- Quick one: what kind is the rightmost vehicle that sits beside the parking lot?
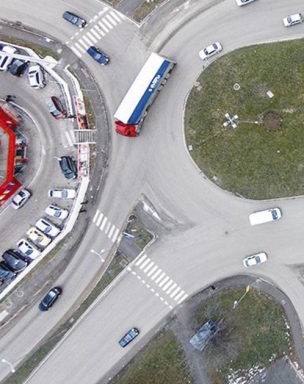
truck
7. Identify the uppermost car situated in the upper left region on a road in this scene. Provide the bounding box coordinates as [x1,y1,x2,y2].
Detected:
[62,10,88,28]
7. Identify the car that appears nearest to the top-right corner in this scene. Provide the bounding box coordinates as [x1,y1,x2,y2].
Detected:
[282,14,304,27]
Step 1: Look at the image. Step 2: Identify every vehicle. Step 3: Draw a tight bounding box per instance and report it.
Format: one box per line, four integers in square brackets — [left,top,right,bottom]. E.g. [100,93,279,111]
[49,95,68,120]
[88,46,110,64]
[243,251,268,267]
[0,262,17,282]
[251,207,281,224]
[41,286,62,310]
[119,327,140,346]
[10,188,33,210]
[62,10,88,28]
[113,52,173,134]
[236,0,258,6]
[17,238,41,257]
[2,250,29,271]
[36,218,60,237]
[50,188,75,200]
[28,227,51,246]
[59,154,78,180]
[11,55,29,80]
[199,41,223,58]
[45,204,70,220]
[189,320,217,351]
[282,14,304,27]
[29,64,46,88]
